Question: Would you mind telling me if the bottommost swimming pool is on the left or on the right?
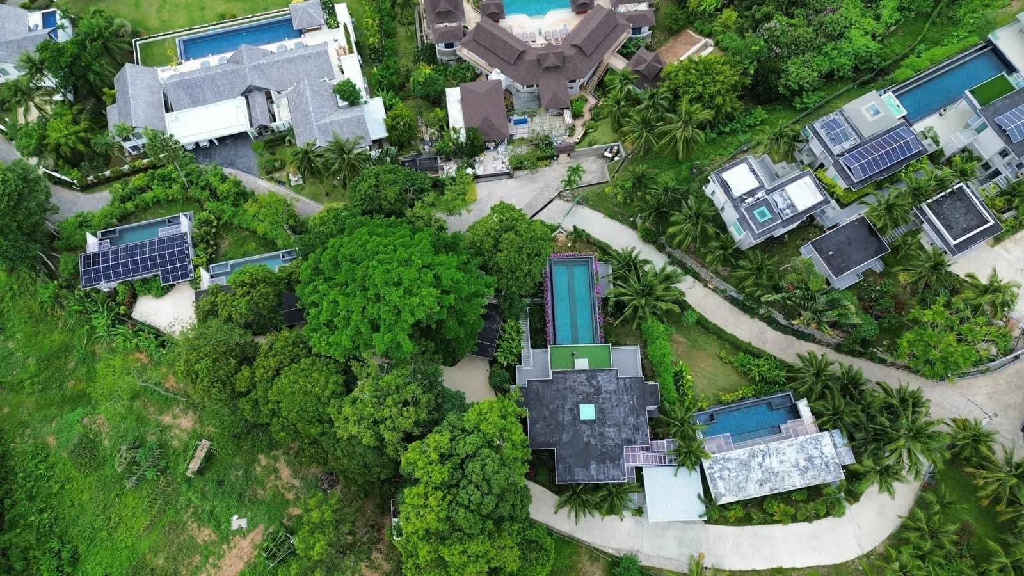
right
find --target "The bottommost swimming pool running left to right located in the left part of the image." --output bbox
[208,248,301,281]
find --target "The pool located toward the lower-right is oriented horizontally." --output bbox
[695,393,795,453]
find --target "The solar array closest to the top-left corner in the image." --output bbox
[82,235,189,285]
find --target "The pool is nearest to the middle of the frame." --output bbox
[549,256,600,346]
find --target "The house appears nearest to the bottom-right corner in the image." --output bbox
[699,432,855,505]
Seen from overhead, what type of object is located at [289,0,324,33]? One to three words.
building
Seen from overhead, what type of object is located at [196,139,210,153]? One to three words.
car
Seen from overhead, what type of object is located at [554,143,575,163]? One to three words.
shed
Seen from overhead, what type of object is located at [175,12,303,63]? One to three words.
swimming pool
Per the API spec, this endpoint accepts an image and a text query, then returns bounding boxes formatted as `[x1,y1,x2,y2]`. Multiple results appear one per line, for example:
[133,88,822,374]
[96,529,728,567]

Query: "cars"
[181,143,194,154]
[196,139,210,153]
